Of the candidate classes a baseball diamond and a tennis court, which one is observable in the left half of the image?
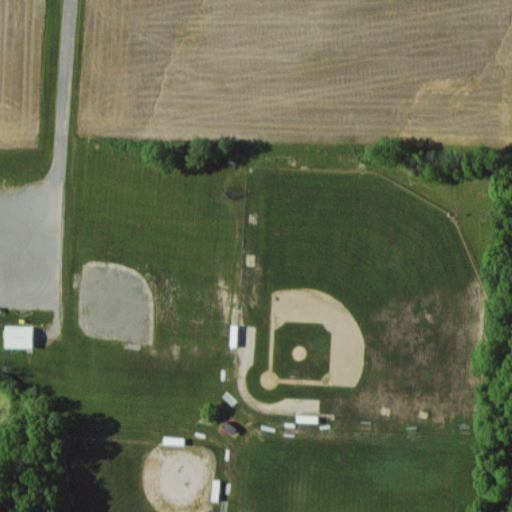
baseball diamond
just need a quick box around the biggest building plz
[4,326,33,353]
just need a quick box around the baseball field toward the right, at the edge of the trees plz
[238,168,486,421]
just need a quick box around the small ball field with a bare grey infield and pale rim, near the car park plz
[79,262,154,350]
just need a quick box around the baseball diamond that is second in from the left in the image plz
[143,444,216,512]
